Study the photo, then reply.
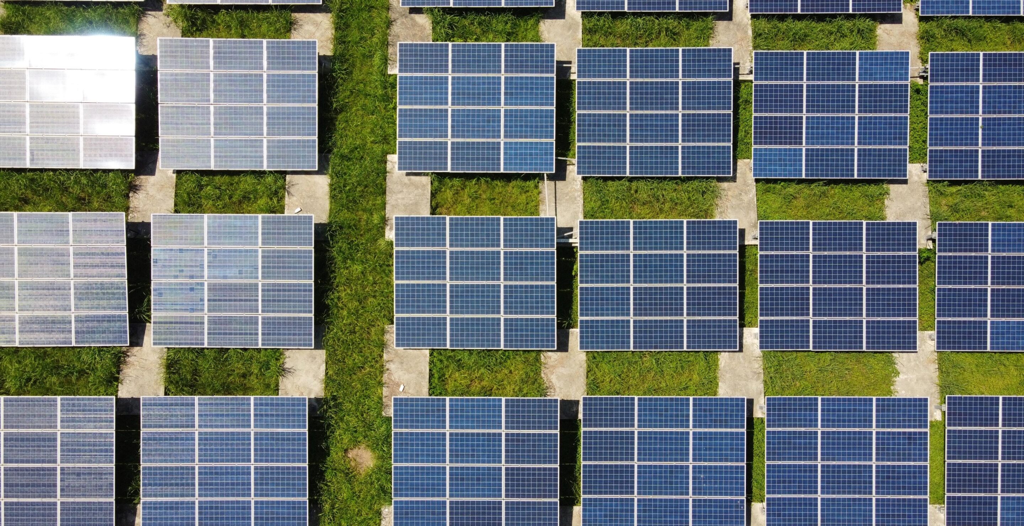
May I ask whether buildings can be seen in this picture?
No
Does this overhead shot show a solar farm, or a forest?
solar farm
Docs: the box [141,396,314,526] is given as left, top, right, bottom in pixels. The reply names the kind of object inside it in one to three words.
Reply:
solar array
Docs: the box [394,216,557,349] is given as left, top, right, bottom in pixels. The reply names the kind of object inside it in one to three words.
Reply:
solar array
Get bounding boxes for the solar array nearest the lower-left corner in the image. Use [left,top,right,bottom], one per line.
[0,395,130,526]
